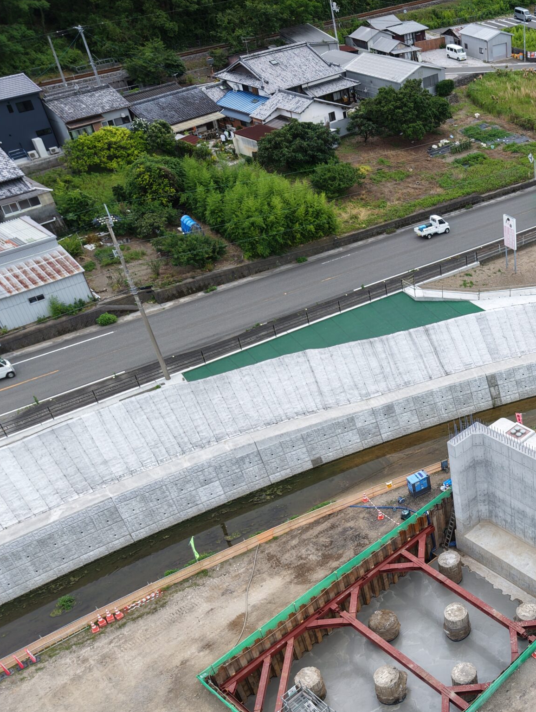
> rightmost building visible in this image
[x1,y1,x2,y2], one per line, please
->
[457,22,516,64]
